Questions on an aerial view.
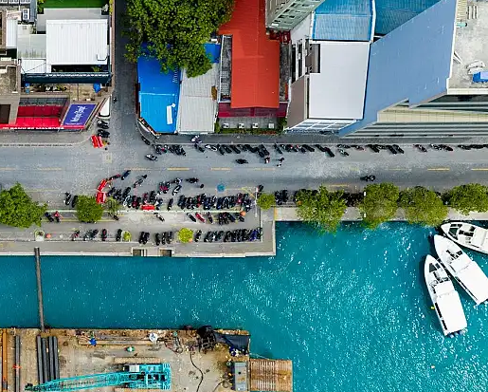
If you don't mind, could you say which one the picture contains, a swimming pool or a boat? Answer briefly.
boat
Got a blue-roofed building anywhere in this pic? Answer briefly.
Yes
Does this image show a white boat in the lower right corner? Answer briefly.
Yes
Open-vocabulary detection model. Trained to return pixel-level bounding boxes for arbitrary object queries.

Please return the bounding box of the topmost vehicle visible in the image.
[100,92,112,119]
